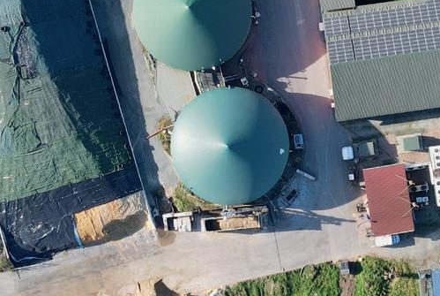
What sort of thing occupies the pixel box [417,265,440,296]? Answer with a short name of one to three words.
shed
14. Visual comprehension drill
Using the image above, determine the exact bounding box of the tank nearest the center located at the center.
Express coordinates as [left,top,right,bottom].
[170,86,290,207]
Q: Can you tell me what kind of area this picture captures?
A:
industrial area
